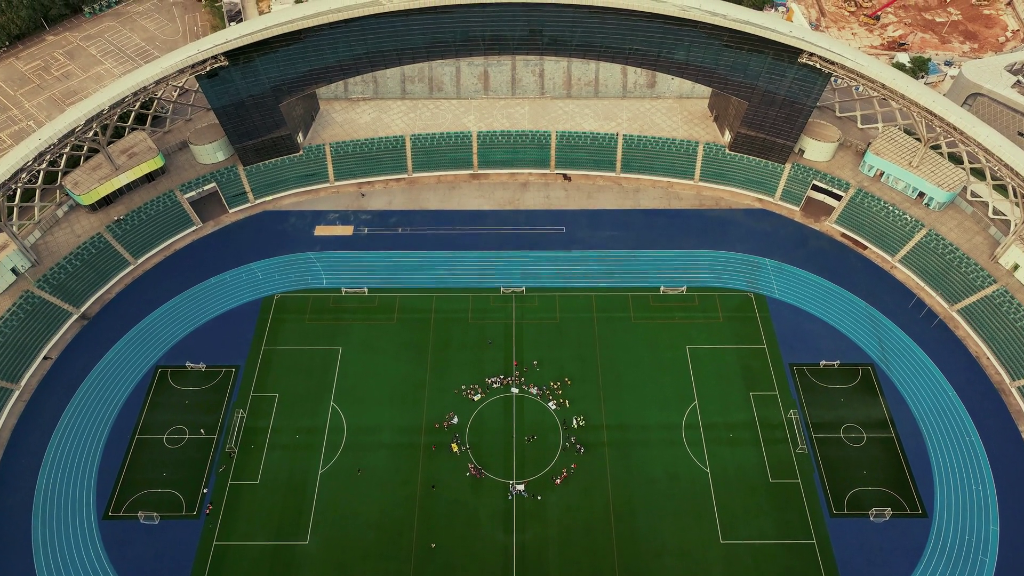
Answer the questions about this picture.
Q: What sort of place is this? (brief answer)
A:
sports ground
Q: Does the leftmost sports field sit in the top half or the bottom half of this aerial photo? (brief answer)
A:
bottom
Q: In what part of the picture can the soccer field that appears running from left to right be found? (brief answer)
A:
bottom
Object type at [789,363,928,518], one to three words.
sports field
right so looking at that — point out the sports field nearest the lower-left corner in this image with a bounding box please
[103,365,240,519]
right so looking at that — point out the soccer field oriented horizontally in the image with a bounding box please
[191,286,841,576]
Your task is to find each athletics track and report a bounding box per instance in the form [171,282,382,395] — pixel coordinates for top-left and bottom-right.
[0,209,1024,576]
